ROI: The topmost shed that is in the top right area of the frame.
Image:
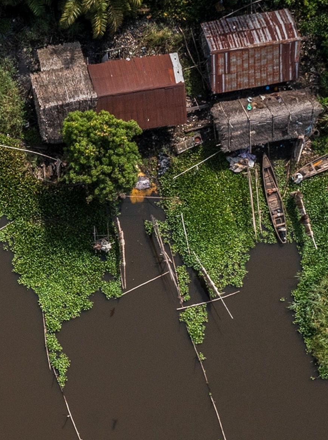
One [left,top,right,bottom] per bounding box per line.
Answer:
[193,8,300,100]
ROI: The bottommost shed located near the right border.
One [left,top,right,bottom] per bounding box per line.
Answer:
[208,88,324,155]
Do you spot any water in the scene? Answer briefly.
Yes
